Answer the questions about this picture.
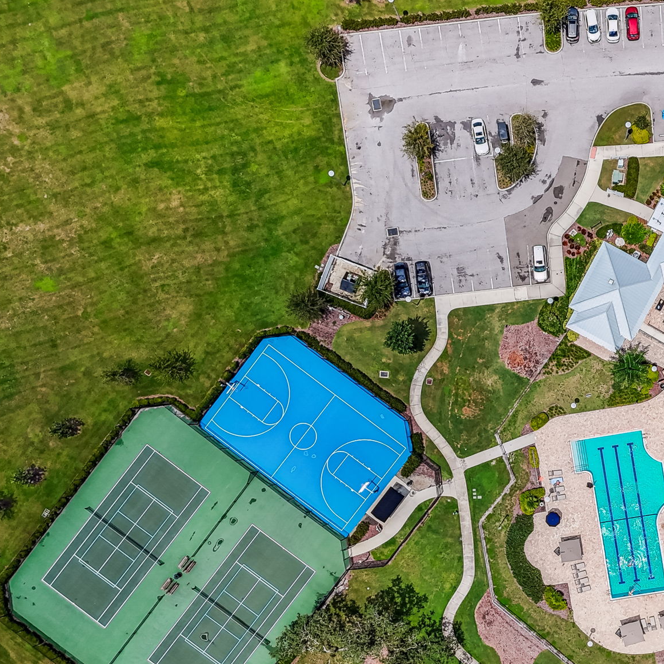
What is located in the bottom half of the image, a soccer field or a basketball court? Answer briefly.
basketball court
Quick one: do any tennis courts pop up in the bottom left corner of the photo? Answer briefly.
Yes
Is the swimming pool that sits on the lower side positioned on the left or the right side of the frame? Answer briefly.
right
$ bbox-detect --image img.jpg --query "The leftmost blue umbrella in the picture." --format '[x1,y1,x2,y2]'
[545,511,560,526]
